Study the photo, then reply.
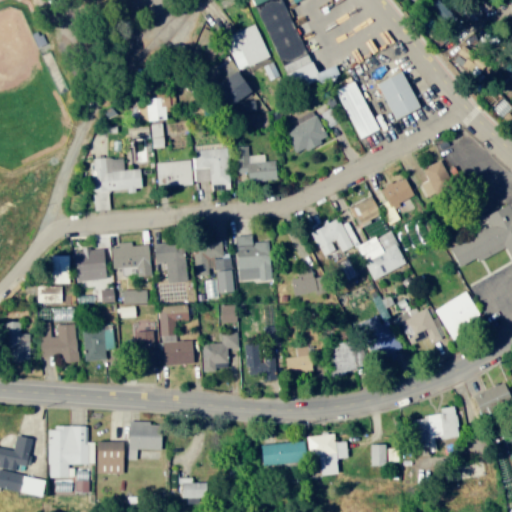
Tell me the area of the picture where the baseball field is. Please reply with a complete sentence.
The baseball field appears toward the top left of the photo.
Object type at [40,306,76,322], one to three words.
greenhouse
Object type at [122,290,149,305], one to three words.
shed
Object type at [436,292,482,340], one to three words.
building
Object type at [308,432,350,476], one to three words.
house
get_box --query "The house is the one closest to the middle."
[237,235,272,284]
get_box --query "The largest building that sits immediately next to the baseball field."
[92,158,143,212]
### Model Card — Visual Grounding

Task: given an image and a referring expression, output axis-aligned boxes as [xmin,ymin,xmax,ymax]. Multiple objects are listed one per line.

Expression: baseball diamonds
[0,2,72,170]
